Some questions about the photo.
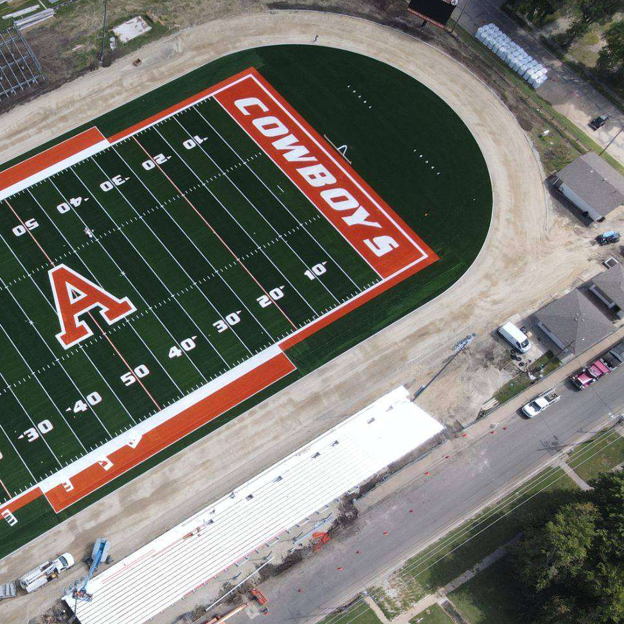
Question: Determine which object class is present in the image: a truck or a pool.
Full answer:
Looking from above, you can make out a truck.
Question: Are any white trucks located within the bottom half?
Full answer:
Yes, within the bottom half there is a white truck.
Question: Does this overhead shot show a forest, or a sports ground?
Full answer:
This image shows a sports ground.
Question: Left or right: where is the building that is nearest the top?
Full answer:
You can find the building that is nearest the top on the right side of the picture.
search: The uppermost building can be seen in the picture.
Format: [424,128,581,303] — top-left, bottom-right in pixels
[541,152,624,225]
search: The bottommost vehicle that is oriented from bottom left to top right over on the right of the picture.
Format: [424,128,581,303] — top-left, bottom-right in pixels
[521,385,567,417]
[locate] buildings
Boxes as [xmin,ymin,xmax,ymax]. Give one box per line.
[530,290,618,370]
[541,152,624,225]
[578,246,624,323]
